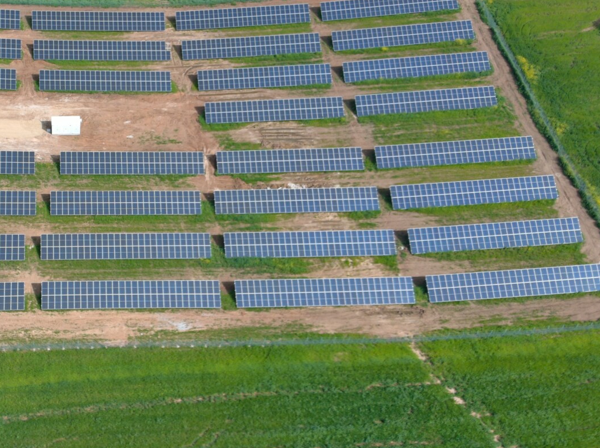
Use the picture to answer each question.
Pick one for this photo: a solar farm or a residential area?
solar farm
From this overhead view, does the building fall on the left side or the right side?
left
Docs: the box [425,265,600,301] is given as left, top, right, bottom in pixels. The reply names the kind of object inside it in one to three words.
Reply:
solar array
